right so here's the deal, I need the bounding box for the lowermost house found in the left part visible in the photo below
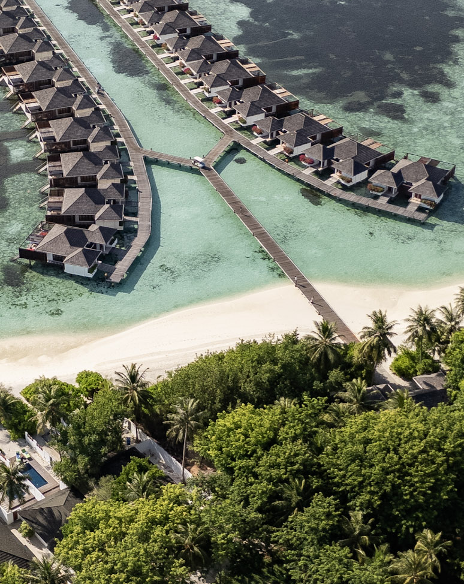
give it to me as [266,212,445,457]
[5,219,121,285]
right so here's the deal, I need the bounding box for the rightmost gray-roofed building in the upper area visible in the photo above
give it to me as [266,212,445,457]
[368,151,457,215]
